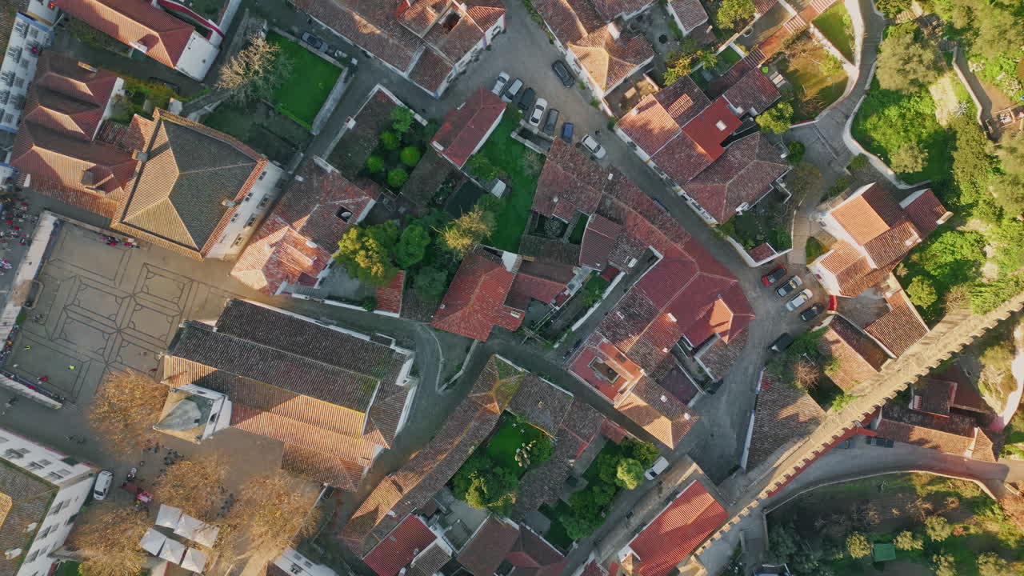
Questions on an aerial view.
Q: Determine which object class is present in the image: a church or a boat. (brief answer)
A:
church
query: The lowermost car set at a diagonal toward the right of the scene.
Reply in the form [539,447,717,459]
[643,454,671,481]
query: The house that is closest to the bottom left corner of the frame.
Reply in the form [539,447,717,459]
[0,419,92,576]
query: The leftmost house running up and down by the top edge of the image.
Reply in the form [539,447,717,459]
[0,10,51,132]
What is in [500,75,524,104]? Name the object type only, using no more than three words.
car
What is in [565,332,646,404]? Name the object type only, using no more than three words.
house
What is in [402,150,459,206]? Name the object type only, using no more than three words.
shed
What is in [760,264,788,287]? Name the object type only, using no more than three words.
car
